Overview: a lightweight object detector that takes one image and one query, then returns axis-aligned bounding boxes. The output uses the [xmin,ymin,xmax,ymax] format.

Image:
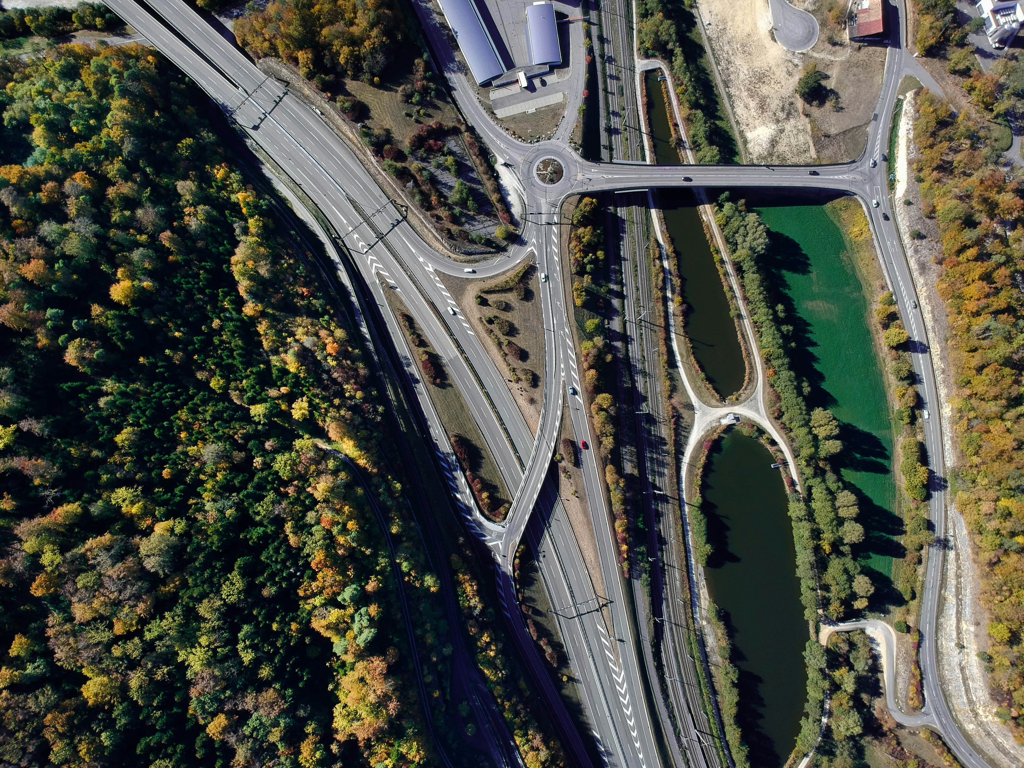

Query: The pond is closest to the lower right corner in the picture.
[701,427,809,768]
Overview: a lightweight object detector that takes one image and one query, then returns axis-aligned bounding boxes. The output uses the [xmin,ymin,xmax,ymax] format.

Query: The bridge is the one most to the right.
[566,145,871,206]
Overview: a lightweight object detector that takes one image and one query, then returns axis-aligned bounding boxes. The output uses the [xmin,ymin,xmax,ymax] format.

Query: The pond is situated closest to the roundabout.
[646,68,746,399]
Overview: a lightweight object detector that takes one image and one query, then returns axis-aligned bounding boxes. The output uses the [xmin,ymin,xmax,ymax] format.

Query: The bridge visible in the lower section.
[505,430,559,536]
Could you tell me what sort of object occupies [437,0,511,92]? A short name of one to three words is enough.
building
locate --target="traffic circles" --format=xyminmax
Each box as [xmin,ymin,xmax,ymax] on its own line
[518,142,580,196]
